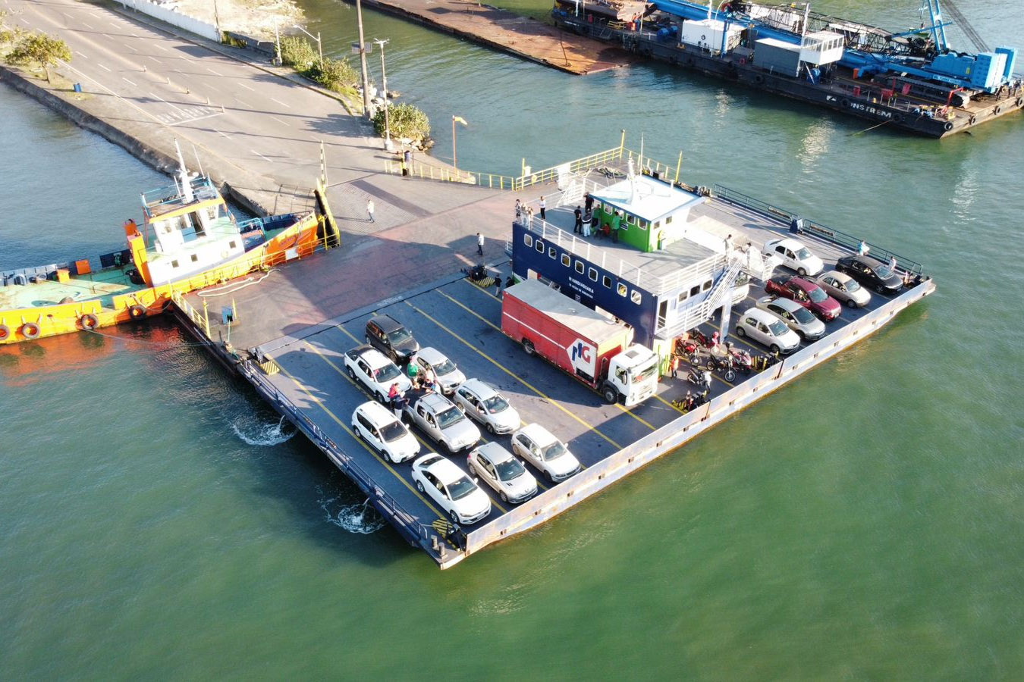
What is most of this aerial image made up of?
water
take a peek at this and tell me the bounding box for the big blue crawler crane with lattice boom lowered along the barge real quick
[718,0,1024,108]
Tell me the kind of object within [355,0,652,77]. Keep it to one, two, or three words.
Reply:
ship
